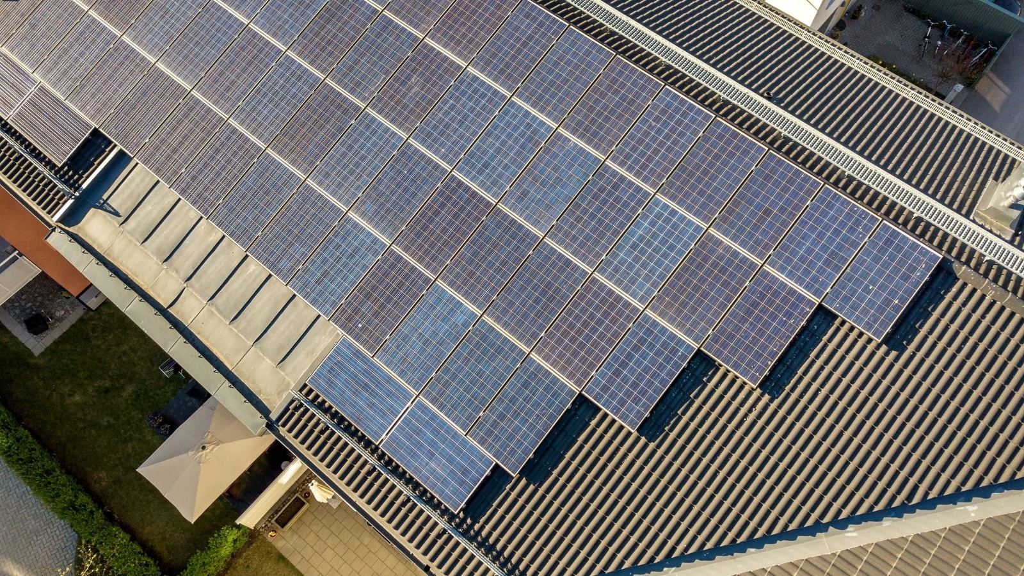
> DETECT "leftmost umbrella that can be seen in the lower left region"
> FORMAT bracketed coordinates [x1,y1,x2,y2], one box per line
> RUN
[138,399,275,523]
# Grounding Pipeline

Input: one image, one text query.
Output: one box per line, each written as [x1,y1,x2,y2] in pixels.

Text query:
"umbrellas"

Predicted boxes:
[138,399,275,523]
[310,483,344,509]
